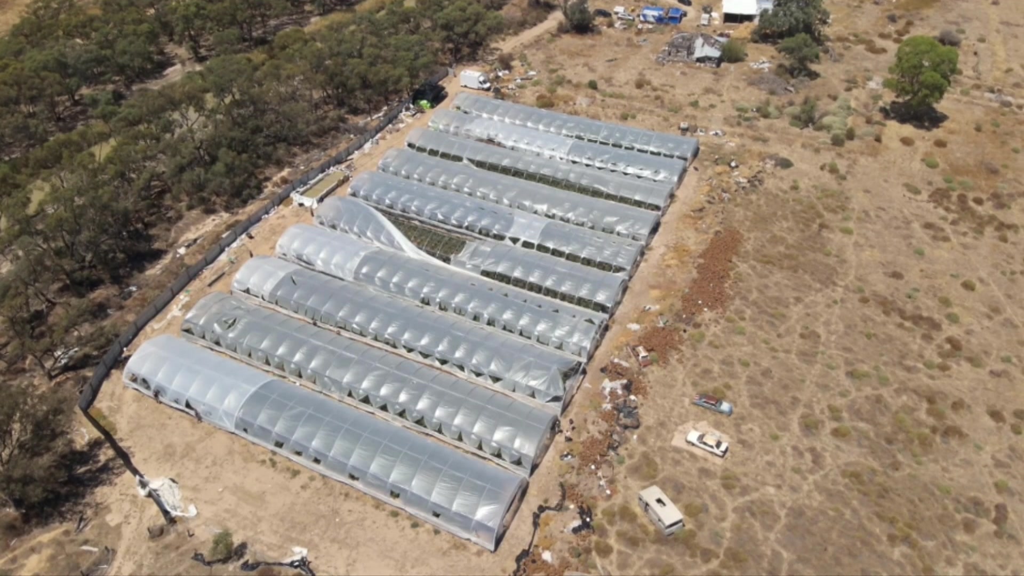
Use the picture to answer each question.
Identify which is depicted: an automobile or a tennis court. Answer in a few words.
automobile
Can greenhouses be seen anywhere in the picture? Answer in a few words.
Yes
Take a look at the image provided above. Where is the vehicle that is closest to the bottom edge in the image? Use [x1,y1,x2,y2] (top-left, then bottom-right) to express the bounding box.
[638,485,682,536]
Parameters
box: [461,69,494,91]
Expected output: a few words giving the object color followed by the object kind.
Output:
white truck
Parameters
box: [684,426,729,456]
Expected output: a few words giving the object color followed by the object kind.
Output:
white car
